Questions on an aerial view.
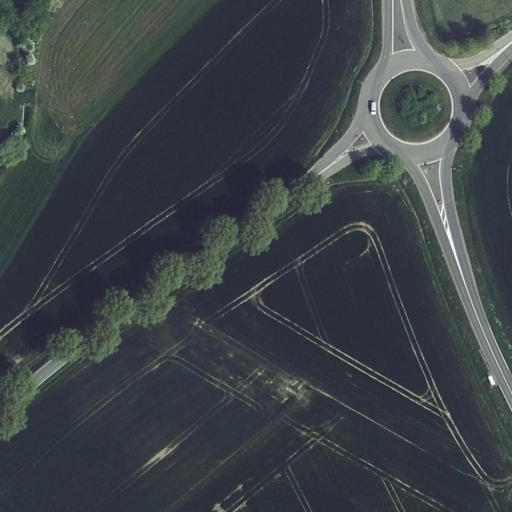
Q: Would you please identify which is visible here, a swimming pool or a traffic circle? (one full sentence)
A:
Visible in the photo is a traffic circle.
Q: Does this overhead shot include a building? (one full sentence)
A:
No, the frame has no building in it.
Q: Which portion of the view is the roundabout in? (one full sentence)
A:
You can find the roundabout in the top right area of the picture.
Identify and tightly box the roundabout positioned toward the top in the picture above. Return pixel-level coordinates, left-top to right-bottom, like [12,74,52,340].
[359,50,473,164]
